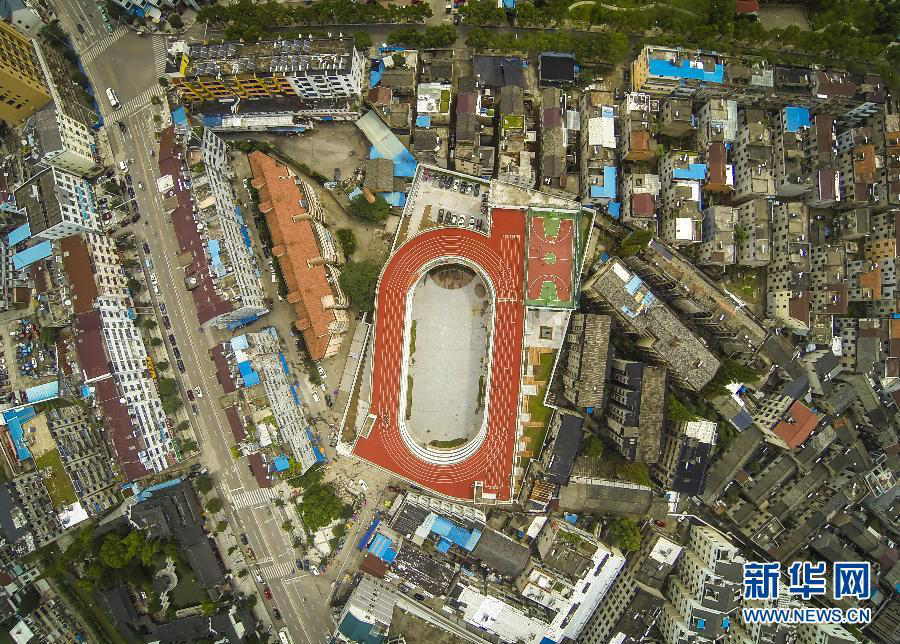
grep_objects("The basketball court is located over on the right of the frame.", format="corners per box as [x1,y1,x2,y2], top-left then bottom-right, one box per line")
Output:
[525,206,584,309]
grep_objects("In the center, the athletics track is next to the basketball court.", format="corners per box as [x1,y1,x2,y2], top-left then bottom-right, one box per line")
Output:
[354,209,530,500]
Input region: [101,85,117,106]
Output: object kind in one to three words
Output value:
vehicle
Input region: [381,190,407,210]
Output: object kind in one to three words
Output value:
shed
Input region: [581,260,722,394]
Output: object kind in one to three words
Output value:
building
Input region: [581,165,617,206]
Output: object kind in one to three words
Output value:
house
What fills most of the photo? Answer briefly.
buildings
